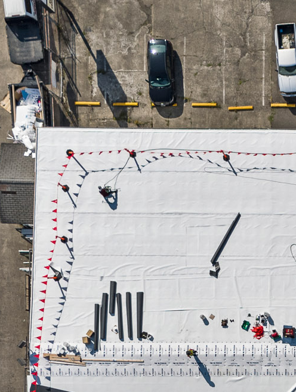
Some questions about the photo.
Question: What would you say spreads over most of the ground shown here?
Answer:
buildings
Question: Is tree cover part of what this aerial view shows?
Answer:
No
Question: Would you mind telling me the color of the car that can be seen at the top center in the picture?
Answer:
black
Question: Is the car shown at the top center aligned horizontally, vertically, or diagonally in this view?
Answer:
vertically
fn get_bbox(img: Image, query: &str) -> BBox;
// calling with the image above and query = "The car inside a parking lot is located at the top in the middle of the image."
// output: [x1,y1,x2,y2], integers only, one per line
[145,38,178,108]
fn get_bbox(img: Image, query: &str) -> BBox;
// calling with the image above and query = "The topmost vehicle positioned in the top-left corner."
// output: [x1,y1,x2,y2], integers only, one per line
[6,0,48,83]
